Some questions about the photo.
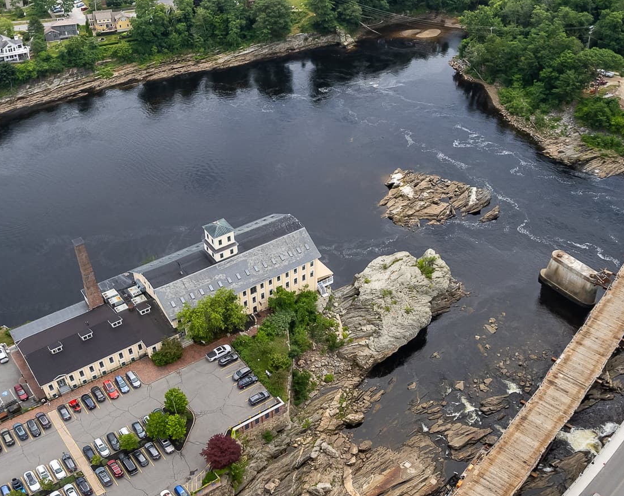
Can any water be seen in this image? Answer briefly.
Yes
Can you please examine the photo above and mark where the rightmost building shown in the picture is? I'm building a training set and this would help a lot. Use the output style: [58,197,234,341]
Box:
[129,214,340,353]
